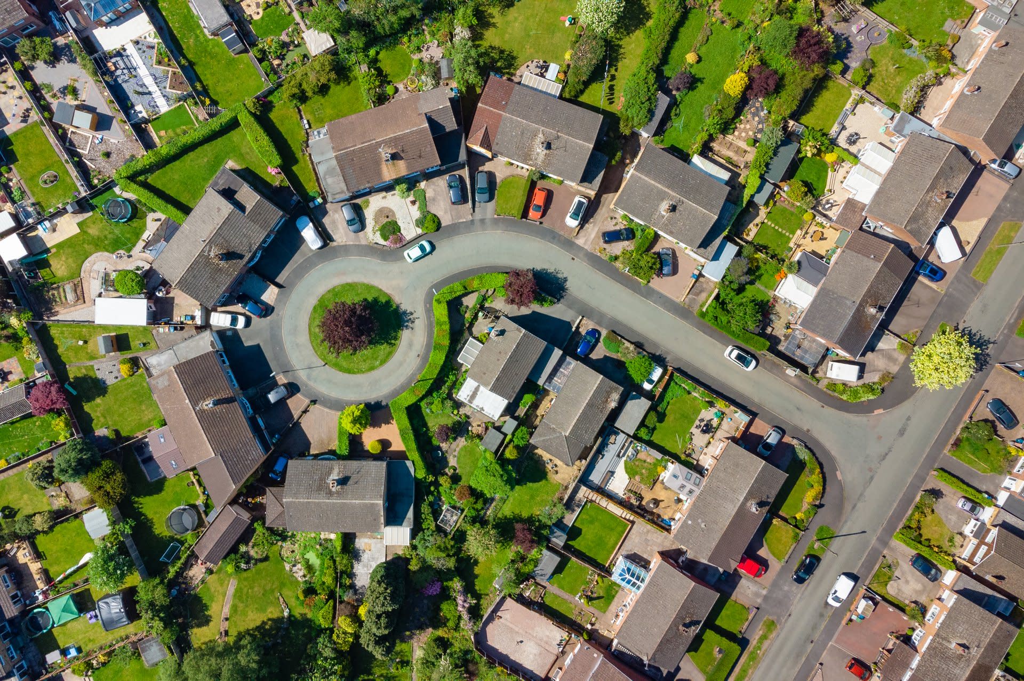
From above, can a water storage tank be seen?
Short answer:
No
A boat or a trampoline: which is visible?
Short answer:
trampoline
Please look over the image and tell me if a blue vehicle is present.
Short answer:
Yes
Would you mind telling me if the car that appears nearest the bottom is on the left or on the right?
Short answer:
right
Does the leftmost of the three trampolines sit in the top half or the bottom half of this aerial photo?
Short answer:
bottom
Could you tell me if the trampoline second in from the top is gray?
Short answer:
Yes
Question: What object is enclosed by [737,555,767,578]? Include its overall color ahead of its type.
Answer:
red car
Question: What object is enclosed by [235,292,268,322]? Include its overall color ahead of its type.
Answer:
blue car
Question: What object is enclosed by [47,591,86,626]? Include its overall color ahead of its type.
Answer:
green gazebo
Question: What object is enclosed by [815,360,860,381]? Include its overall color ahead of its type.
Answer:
white camper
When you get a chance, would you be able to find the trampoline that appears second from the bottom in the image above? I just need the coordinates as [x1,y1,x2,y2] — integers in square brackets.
[161,504,197,539]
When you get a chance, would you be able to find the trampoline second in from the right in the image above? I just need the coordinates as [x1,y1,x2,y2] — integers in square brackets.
[96,192,133,225]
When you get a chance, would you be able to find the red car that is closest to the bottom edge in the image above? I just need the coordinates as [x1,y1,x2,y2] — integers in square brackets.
[845,655,871,681]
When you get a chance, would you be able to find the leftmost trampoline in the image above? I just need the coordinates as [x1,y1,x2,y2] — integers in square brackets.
[17,608,51,641]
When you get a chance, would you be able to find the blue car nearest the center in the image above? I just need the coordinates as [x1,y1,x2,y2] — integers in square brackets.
[576,327,599,358]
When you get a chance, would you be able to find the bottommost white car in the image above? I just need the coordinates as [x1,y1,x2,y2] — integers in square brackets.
[828,571,856,607]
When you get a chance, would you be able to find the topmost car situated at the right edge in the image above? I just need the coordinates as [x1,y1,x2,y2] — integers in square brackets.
[986,159,1022,179]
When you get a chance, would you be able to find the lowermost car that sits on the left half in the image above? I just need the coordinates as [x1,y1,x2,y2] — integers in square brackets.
[269,453,289,482]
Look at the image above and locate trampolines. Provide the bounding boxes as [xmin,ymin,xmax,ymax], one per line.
[17,608,51,641]
[161,504,197,539]
[96,192,133,225]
